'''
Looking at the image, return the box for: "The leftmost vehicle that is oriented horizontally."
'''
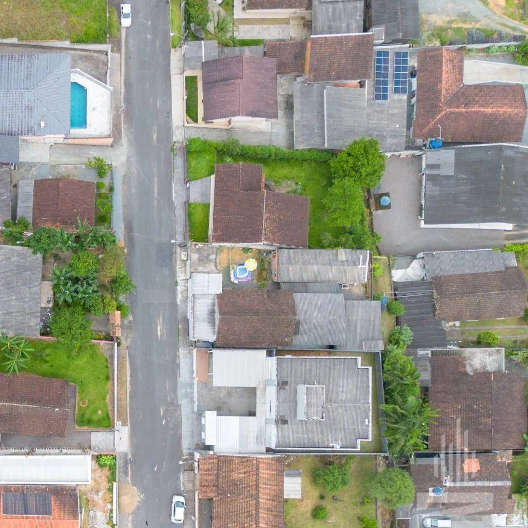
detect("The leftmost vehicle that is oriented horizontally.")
[422,515,452,528]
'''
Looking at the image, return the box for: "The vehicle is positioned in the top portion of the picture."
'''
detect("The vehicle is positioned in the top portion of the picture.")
[120,2,133,28]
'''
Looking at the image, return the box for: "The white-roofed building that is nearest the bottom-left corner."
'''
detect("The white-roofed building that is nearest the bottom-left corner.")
[0,453,91,484]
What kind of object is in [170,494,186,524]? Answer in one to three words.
car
